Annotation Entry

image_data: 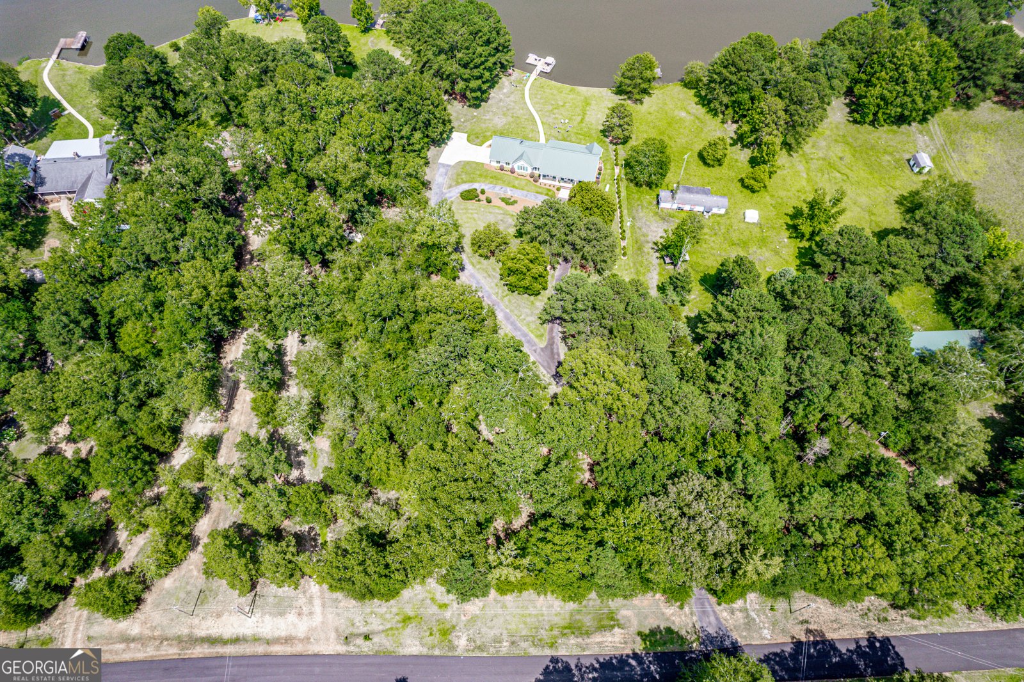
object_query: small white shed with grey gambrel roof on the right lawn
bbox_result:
[909,152,933,173]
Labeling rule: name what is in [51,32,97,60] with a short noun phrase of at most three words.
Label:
pier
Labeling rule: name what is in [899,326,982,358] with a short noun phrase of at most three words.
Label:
building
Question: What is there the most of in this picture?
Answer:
trees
